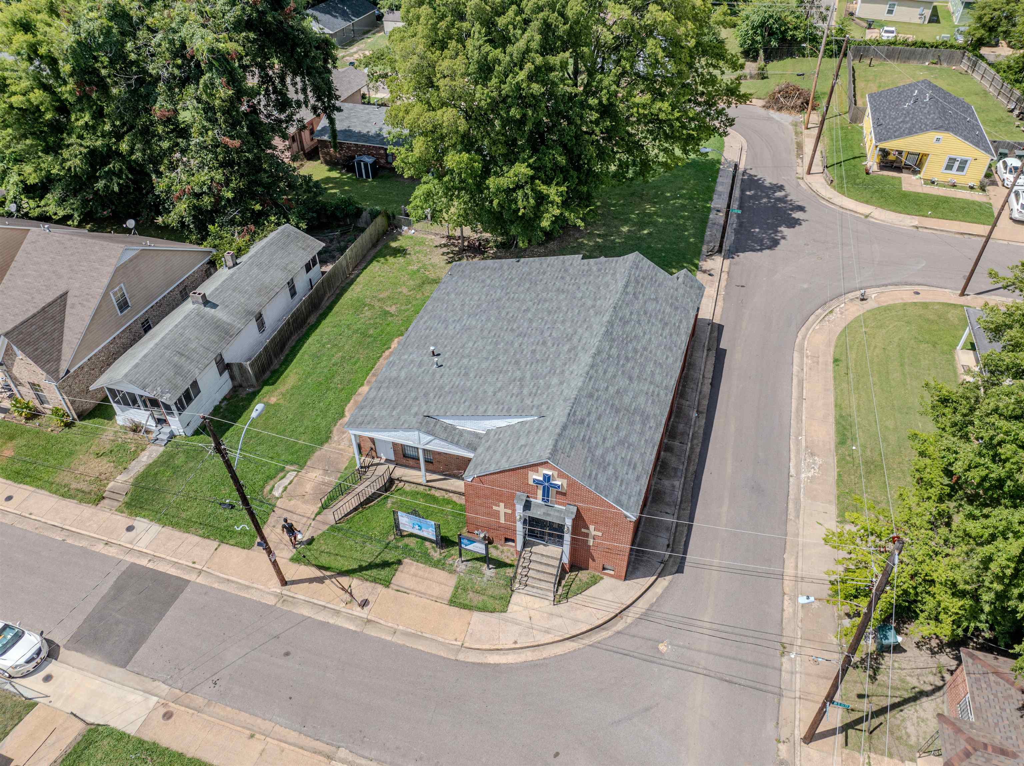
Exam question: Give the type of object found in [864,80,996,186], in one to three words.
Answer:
house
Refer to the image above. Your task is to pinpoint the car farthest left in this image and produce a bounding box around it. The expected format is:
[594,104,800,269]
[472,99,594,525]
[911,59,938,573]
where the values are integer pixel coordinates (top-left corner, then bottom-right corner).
[0,622,48,686]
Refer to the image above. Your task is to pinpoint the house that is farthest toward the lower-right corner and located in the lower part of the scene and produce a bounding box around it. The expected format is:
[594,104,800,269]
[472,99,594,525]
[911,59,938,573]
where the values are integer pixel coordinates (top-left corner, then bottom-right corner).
[918,645,1024,766]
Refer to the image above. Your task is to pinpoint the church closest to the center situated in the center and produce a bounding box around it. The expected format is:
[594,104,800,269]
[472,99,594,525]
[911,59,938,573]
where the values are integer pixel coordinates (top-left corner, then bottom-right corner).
[321,251,705,604]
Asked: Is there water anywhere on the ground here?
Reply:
No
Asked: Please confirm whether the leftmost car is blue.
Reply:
No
